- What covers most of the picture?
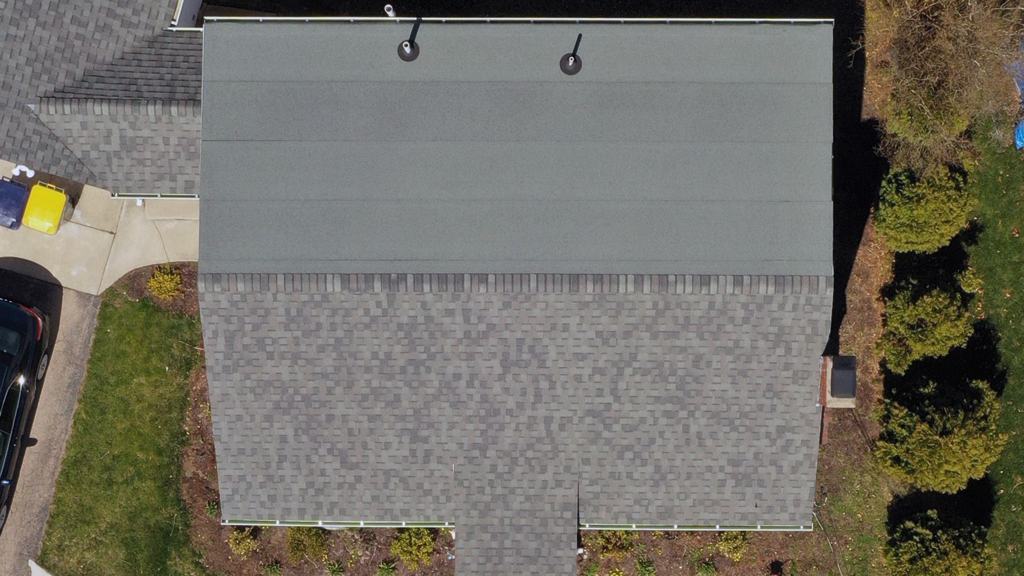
buildings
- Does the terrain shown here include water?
No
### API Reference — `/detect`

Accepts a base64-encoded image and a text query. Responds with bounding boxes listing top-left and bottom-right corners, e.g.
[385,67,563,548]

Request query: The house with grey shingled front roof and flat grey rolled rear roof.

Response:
[198,4,857,576]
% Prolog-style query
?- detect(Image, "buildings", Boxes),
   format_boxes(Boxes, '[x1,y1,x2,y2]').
[198,4,857,576]
[0,0,209,191]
